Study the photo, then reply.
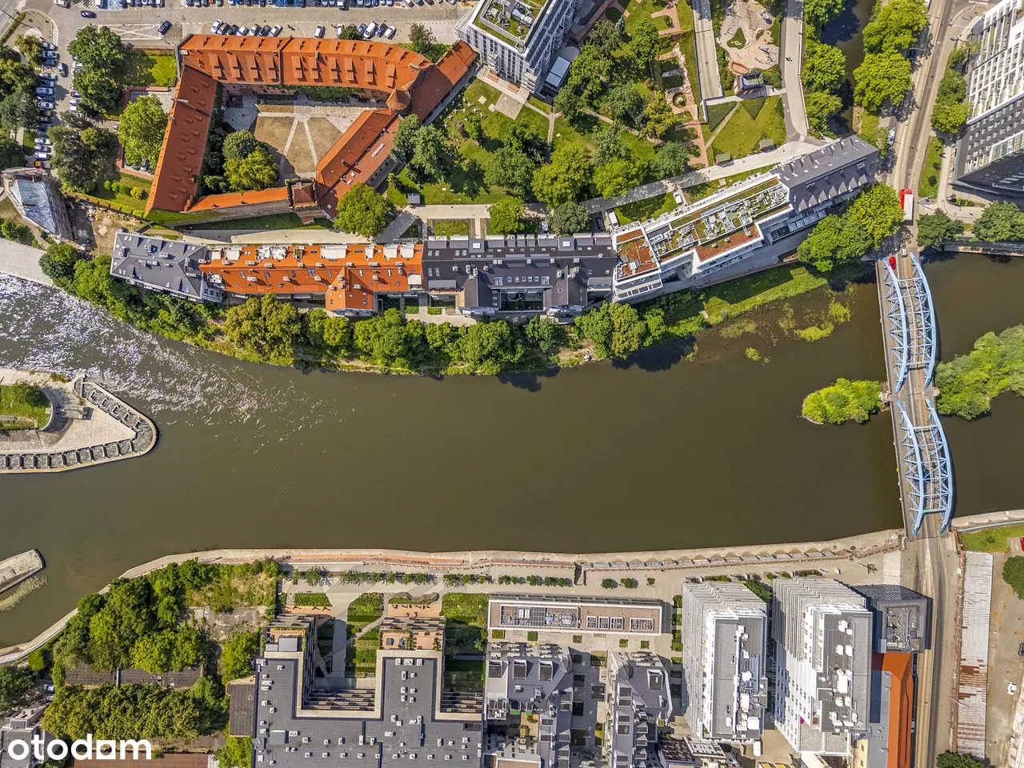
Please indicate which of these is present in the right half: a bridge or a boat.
bridge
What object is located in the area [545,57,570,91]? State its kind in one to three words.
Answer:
building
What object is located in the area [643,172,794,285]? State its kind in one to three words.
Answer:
building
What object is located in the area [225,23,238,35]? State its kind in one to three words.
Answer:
vehicle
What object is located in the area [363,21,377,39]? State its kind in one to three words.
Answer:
vehicle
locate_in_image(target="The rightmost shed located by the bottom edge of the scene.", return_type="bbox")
[951,550,993,766]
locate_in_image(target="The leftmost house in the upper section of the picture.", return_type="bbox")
[3,168,89,242]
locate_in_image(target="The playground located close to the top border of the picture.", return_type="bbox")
[721,0,779,72]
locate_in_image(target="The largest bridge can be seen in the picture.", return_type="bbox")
[870,246,958,547]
